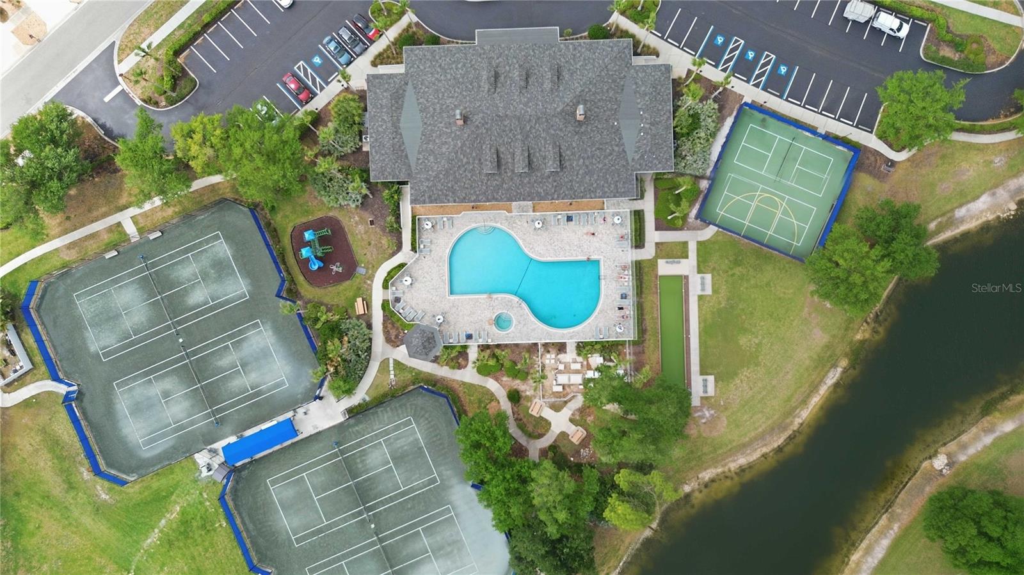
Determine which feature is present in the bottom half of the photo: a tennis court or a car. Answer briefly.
tennis court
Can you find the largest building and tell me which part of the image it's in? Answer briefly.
top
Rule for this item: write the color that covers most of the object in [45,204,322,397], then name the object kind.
gray tennis court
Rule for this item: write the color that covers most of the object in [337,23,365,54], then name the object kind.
gray car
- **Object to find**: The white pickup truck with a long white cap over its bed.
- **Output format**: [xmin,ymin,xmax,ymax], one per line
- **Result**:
[871,10,909,37]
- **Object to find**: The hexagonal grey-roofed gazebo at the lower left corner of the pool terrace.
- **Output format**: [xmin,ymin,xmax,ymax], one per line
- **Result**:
[404,324,443,361]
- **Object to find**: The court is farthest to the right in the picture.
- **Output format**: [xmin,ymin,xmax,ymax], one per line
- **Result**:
[700,108,854,255]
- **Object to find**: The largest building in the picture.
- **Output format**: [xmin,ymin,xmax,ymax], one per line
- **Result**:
[366,26,675,206]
